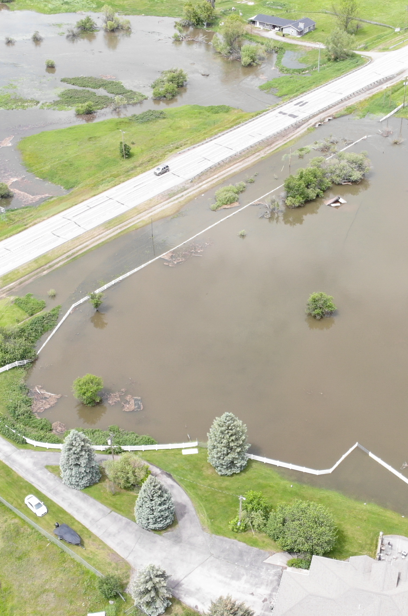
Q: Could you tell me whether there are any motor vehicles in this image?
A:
Yes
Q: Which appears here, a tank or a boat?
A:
boat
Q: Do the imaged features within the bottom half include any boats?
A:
Yes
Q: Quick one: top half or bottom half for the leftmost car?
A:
bottom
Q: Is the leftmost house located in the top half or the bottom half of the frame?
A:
top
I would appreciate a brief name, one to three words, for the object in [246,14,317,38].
house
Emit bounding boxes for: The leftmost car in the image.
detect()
[20,489,48,515]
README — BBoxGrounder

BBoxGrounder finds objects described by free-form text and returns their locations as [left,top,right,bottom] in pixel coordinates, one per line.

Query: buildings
[246,14,317,38]
[272,556,408,616]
